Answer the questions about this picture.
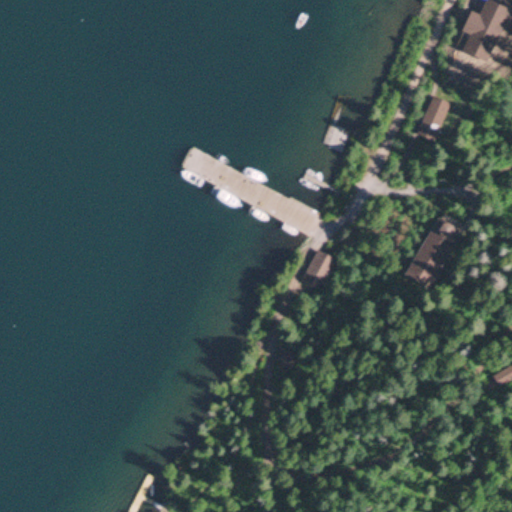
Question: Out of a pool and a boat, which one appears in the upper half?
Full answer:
Visible in the upper half is a boat.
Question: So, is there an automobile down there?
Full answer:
No, no automobile is visible in the scene.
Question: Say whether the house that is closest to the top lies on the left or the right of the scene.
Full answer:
The house that is closest to the top sits on the right side.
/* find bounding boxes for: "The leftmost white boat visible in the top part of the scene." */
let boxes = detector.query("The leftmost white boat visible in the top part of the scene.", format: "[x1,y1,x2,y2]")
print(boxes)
[182,172,206,188]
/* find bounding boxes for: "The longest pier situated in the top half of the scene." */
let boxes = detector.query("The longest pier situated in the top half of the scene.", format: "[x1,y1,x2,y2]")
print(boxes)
[184,148,321,234]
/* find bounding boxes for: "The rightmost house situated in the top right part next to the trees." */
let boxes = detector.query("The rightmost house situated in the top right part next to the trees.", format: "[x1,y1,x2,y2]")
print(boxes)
[462,0,512,62]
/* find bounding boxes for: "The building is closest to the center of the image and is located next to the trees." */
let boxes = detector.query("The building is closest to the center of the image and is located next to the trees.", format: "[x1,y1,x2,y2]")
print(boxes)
[308,250,332,279]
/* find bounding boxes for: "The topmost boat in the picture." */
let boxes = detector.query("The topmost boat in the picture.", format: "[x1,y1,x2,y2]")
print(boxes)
[297,12,309,28]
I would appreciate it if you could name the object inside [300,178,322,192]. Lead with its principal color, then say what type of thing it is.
white boat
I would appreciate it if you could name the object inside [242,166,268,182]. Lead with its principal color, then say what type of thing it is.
white boat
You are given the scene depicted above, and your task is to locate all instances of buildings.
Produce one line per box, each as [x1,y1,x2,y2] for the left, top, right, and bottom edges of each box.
[308,250,332,279]
[424,96,451,130]
[408,221,458,284]
[462,0,512,62]
[496,366,512,387]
